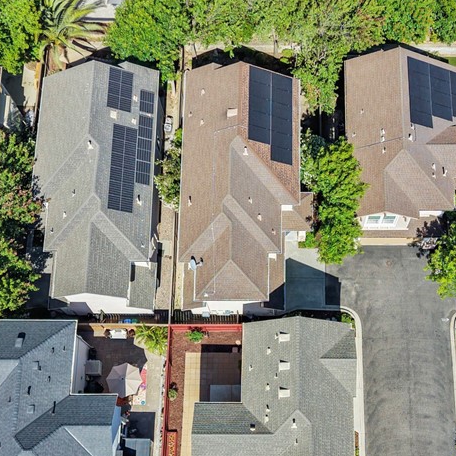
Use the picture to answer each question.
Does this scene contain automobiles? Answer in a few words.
No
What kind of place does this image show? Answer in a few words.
residential area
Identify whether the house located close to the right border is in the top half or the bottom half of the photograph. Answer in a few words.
top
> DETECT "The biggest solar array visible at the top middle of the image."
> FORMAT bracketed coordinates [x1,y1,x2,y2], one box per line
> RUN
[249,65,293,164]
